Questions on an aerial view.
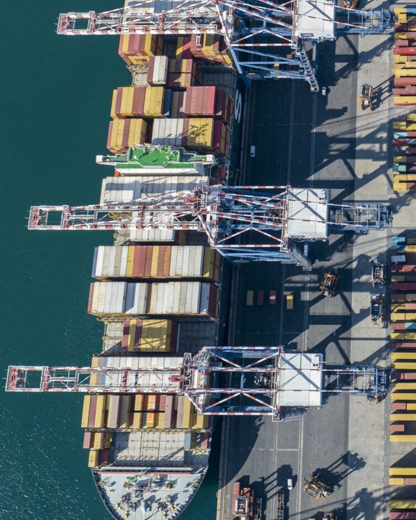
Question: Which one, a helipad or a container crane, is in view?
container crane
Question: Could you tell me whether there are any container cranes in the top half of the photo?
Yes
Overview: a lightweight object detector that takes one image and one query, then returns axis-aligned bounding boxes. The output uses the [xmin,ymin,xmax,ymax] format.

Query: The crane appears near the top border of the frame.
[54,0,391,95]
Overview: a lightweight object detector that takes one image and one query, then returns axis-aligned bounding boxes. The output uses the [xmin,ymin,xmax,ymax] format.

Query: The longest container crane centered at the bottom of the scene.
[3,341,385,422]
